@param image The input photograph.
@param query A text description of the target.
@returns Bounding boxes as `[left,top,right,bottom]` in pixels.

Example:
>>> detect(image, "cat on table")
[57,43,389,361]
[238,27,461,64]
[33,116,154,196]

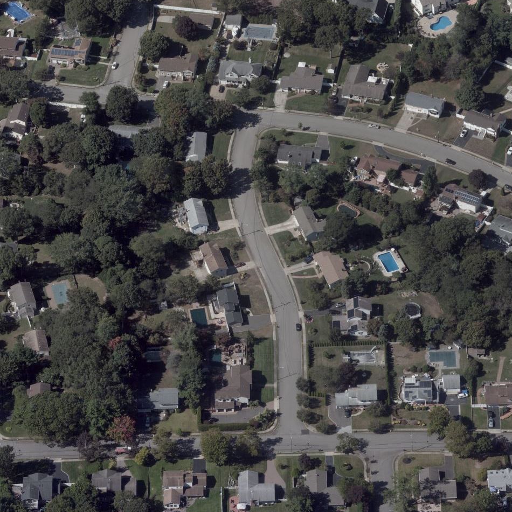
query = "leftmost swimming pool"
[3,1,32,22]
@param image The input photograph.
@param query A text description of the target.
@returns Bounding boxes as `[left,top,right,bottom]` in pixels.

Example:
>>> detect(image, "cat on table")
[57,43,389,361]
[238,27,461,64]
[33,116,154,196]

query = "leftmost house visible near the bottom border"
[22,471,55,507]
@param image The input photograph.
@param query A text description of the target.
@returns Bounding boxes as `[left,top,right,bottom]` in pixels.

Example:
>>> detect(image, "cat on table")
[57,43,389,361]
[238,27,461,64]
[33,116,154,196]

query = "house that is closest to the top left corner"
[0,34,29,62]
